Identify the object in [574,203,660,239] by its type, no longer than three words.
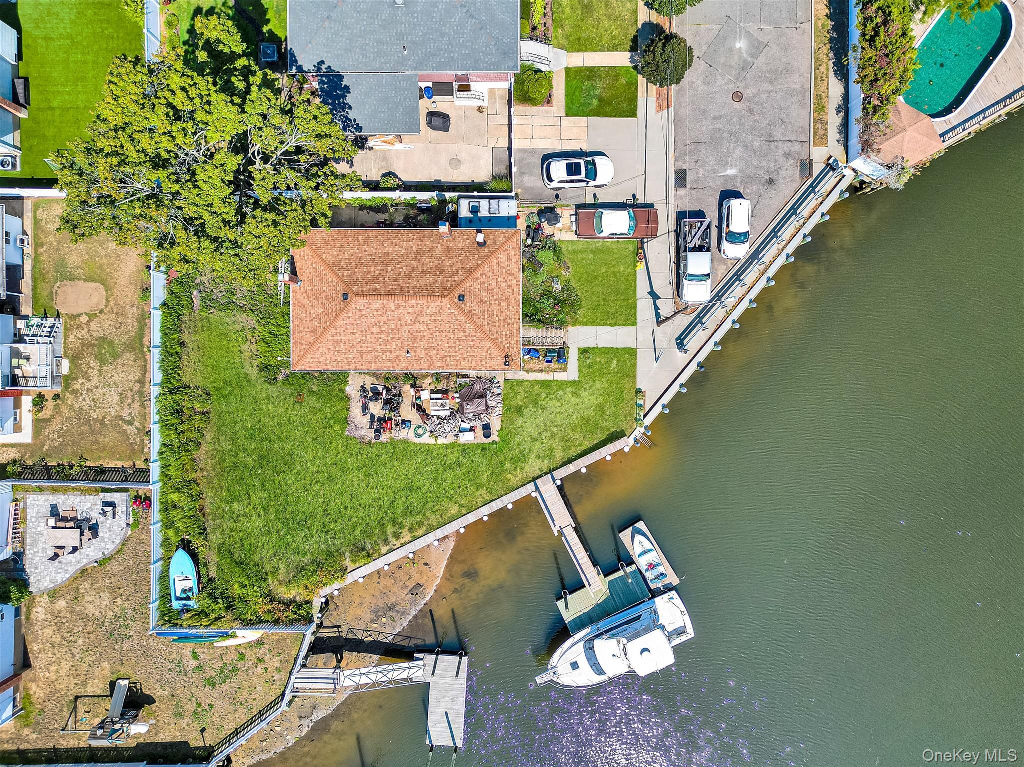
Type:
car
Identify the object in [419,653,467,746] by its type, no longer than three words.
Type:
pier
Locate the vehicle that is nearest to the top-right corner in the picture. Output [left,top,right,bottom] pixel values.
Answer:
[719,196,753,261]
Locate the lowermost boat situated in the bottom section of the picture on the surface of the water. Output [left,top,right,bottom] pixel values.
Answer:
[534,589,691,690]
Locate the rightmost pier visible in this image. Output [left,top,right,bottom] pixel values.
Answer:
[622,518,676,594]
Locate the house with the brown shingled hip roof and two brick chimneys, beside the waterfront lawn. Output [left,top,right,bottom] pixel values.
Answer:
[280,223,522,371]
